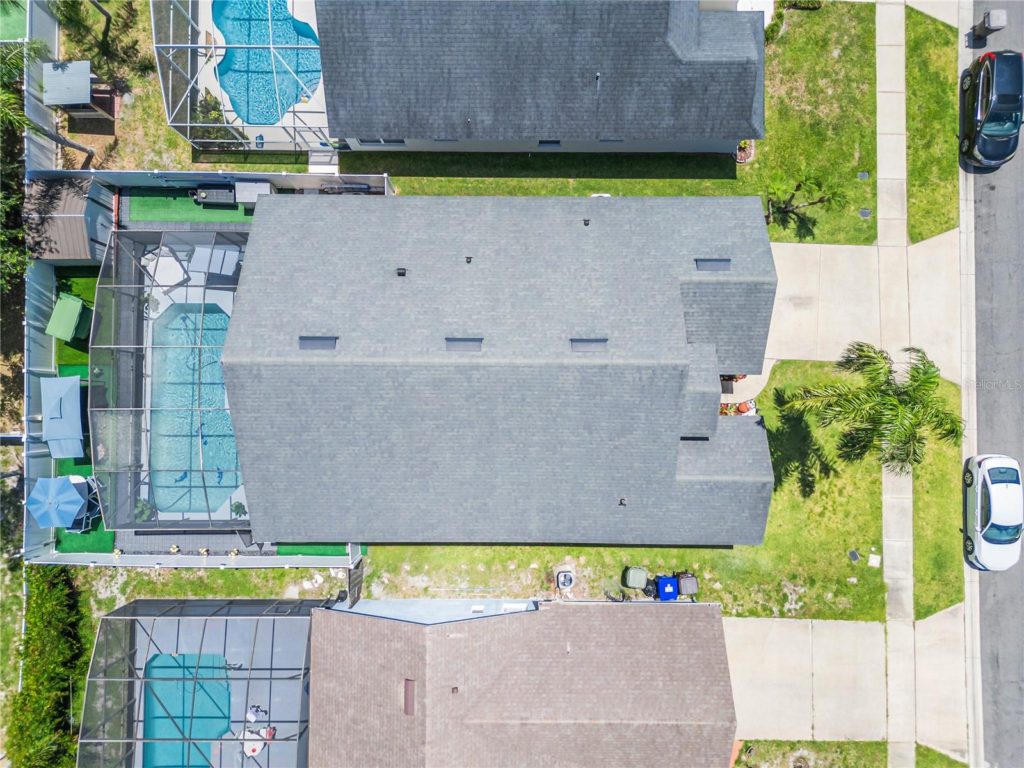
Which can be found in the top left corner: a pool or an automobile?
pool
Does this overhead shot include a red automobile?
No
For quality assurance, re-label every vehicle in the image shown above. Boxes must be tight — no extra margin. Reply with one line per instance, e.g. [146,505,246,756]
[962,46,1024,173]
[964,453,1024,569]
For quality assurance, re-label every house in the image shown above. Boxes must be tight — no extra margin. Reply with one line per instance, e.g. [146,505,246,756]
[315,0,766,153]
[220,195,781,544]
[311,599,738,768]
